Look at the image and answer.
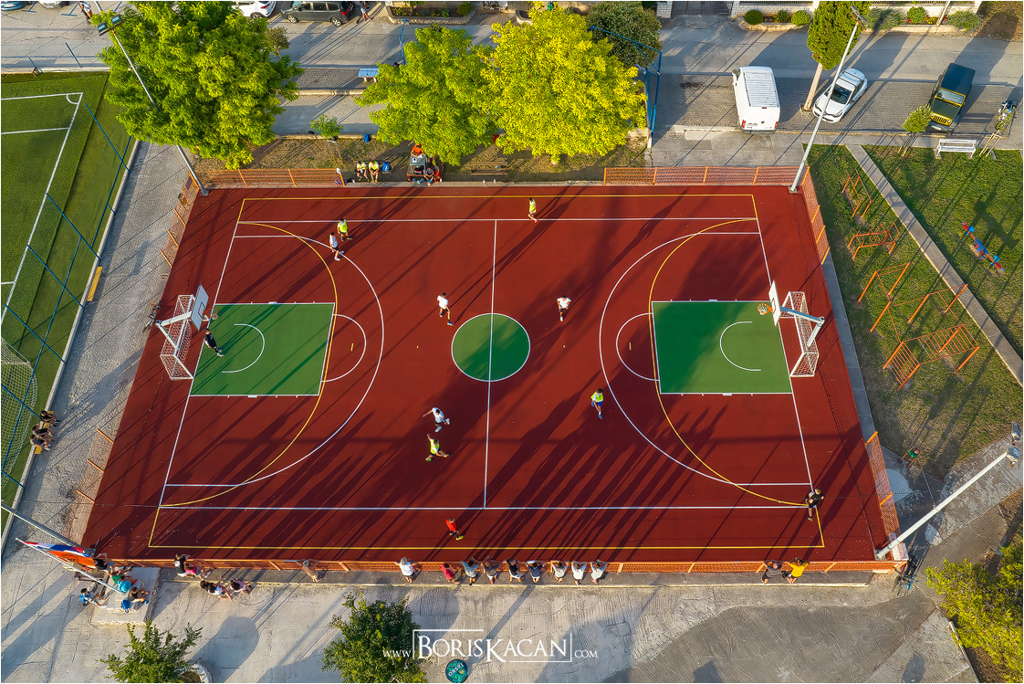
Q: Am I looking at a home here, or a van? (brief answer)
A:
van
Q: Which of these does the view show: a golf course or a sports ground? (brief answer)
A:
sports ground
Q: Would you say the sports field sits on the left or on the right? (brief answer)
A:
left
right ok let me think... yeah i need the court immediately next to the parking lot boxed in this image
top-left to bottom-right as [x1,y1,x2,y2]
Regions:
[81,182,895,570]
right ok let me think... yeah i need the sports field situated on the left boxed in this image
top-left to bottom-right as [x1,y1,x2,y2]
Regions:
[0,70,141,570]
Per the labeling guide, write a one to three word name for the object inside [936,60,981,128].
car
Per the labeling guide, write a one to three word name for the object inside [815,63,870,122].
car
